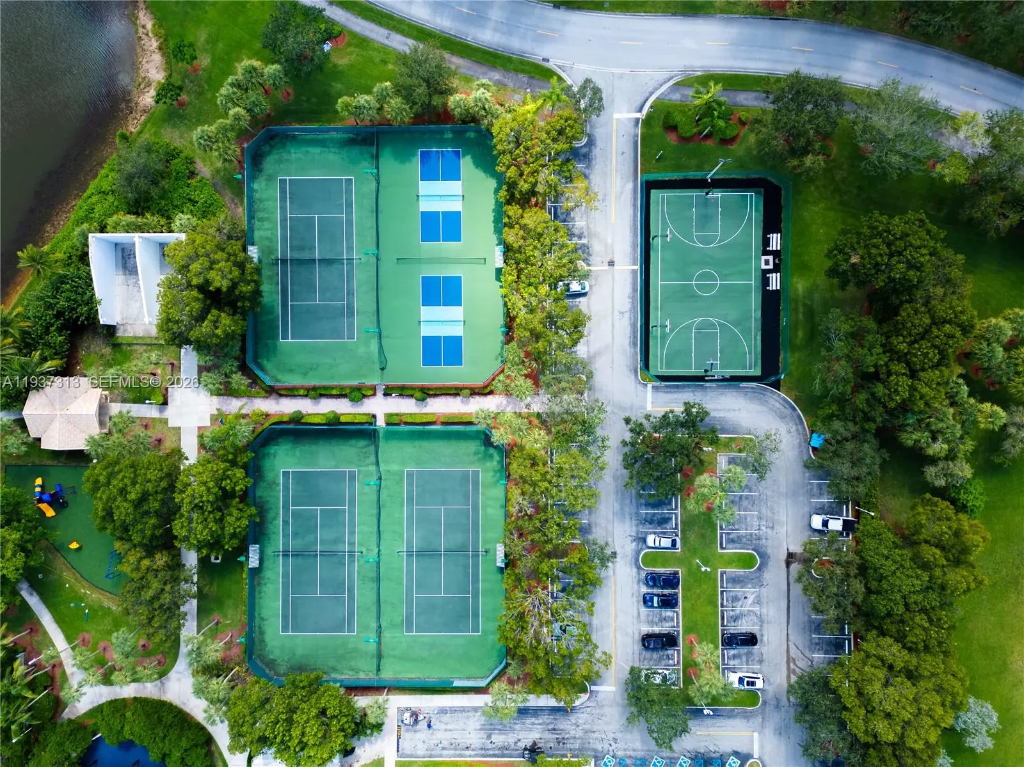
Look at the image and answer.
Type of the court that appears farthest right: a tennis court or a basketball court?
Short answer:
basketball court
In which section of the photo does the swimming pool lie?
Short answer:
bottom left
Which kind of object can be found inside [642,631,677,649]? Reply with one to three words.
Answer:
car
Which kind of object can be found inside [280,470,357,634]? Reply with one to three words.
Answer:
tennis court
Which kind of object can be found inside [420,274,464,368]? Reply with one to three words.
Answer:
sports court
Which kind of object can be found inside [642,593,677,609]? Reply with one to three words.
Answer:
car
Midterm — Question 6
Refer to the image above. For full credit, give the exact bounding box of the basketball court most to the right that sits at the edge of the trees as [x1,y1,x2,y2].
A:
[650,188,763,375]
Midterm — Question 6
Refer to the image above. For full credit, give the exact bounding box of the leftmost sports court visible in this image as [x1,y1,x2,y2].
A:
[86,231,211,338]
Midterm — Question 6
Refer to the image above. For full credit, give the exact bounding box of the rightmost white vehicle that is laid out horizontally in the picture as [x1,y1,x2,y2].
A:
[810,514,855,532]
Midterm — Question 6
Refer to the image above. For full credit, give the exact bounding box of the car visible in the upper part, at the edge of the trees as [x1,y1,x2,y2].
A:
[559,280,591,295]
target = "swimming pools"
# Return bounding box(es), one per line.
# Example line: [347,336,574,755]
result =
[82,732,164,767]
